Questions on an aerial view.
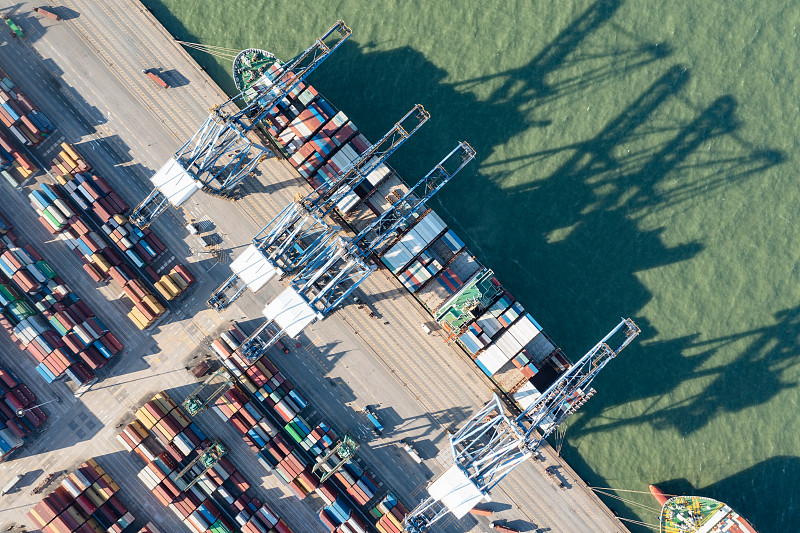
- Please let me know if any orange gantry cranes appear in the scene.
No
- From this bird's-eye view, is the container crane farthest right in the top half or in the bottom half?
bottom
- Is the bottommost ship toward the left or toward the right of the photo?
right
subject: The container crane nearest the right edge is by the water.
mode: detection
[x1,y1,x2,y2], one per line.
[398,317,643,533]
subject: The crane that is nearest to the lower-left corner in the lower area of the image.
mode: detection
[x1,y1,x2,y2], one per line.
[173,431,237,492]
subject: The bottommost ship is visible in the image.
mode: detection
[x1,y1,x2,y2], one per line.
[648,483,759,533]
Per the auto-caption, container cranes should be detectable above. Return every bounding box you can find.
[398,317,643,533]
[234,139,479,367]
[200,101,434,318]
[180,363,242,418]
[309,426,361,485]
[173,431,237,492]
[123,16,356,234]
